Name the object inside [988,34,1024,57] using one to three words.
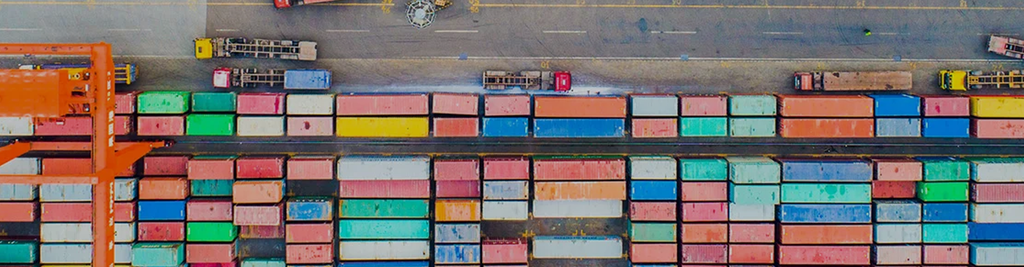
truck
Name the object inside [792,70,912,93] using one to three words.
truck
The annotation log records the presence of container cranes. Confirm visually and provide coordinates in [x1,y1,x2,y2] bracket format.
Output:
[0,40,177,267]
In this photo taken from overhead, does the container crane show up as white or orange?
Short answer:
orange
